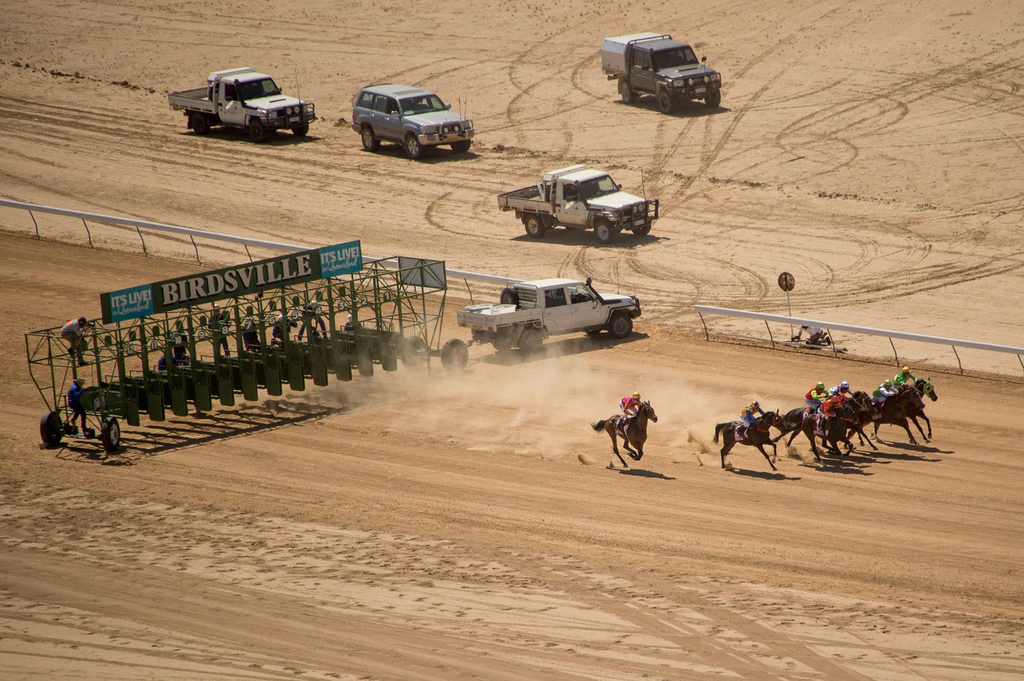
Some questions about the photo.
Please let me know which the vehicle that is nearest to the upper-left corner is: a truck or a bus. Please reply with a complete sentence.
The vehicle that is nearest to the upper-left corner can be classified as a truck.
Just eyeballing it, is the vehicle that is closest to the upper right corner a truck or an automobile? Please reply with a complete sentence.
Specifically, the vehicle that is closest to the upper right corner is a truck.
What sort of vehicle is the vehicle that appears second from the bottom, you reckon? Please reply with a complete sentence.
It turns out the vehicle that appears second from the bottom is a truck.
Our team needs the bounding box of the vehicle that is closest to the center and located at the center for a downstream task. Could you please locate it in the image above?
[459,256,644,355]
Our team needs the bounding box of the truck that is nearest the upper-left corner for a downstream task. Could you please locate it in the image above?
[171,66,309,143]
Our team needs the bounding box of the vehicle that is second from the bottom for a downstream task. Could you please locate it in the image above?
[497,165,661,245]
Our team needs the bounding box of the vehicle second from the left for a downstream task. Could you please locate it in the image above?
[349,84,470,159]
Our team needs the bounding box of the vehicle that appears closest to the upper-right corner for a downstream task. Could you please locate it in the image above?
[603,33,721,113]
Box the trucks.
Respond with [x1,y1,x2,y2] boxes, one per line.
[603,33,721,113]
[459,256,644,355]
[171,66,309,143]
[497,165,661,245]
